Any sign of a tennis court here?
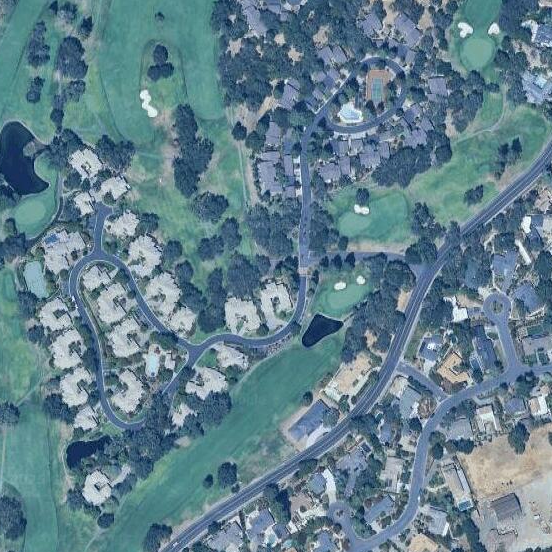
Yes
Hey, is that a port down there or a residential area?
residential area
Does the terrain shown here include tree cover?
Yes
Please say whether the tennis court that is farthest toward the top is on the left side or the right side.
right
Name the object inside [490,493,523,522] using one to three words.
barn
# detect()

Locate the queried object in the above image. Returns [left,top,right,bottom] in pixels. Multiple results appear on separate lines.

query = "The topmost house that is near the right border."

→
[534,23,552,45]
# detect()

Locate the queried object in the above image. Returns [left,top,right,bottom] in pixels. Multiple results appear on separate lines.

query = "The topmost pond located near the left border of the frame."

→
[0,121,49,197]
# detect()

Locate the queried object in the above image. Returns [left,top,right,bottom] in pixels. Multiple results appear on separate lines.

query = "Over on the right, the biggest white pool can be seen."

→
[339,103,362,123]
